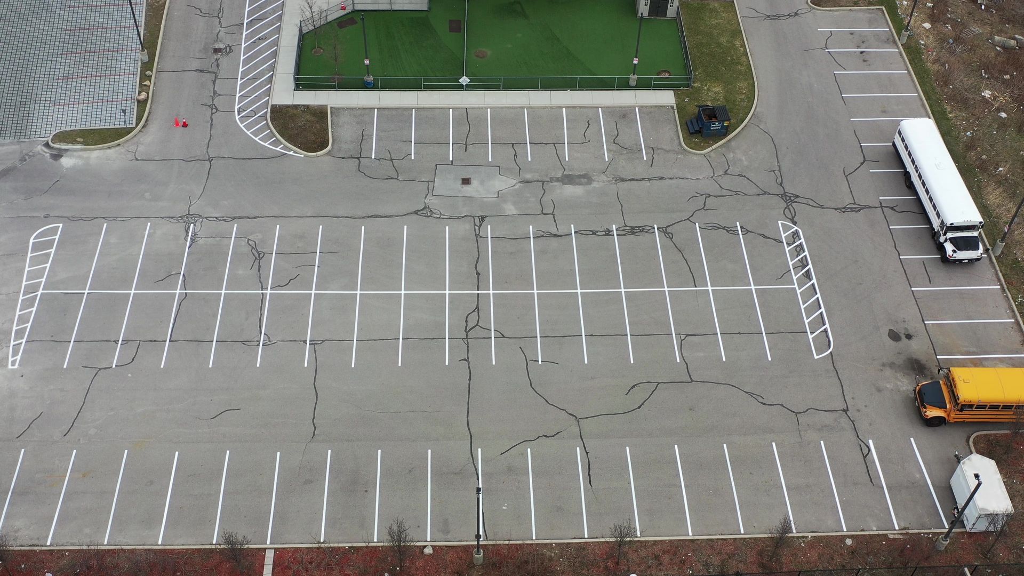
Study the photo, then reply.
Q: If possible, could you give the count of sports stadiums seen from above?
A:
0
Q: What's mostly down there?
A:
paved ground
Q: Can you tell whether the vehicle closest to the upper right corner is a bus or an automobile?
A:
bus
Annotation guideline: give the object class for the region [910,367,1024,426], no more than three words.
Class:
bus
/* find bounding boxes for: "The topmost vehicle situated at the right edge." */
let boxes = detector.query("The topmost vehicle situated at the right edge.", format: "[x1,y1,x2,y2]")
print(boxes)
[891,119,994,264]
